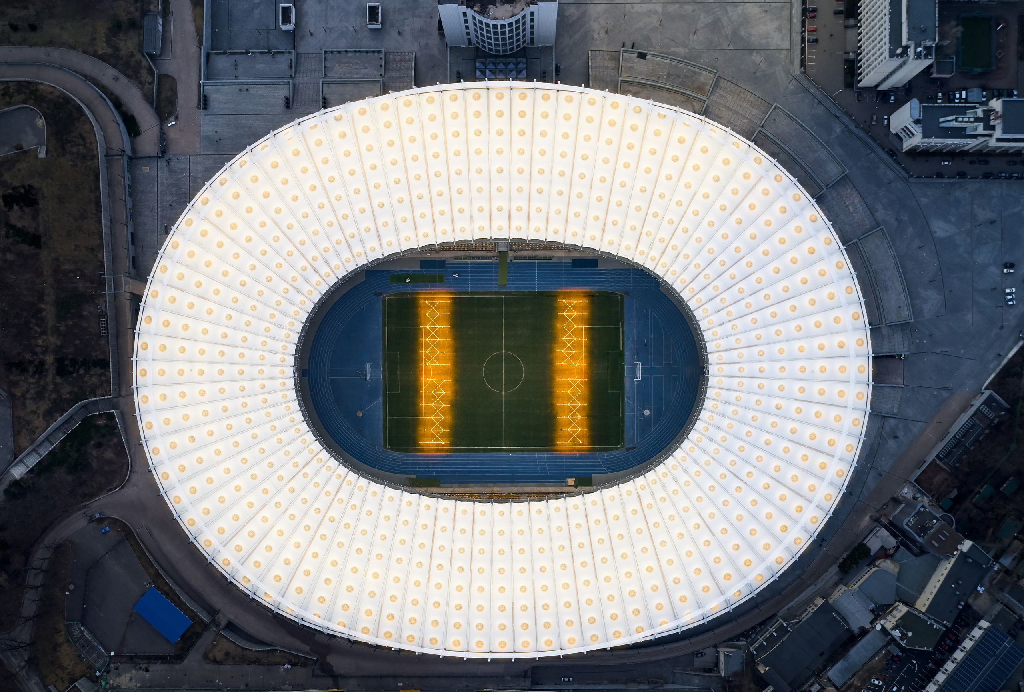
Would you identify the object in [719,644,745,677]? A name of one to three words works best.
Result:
building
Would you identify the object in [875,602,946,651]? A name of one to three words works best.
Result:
building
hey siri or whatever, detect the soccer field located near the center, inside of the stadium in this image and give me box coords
[382,291,625,453]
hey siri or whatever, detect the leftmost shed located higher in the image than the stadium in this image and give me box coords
[142,13,165,59]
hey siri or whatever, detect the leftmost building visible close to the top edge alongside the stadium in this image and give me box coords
[436,0,558,60]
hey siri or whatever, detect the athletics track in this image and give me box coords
[298,258,705,484]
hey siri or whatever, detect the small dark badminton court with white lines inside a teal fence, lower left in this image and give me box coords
[66,614,111,675]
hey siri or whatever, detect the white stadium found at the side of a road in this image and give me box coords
[130,77,872,665]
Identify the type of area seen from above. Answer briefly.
sports ground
